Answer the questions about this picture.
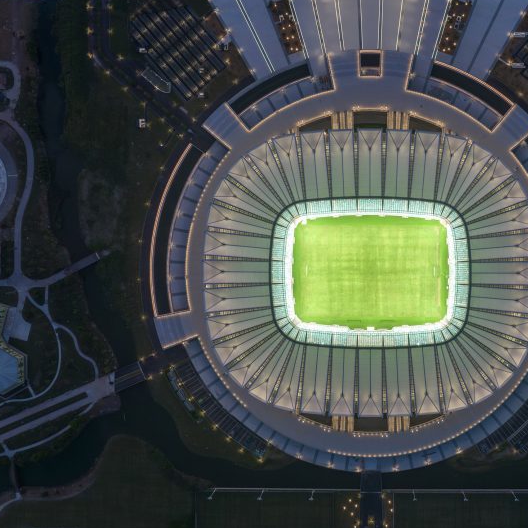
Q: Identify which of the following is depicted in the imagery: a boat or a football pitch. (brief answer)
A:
football pitch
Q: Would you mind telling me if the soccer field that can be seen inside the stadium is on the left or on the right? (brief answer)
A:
right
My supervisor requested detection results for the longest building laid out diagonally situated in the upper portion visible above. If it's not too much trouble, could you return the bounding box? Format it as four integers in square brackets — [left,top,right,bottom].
[141,67,172,94]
